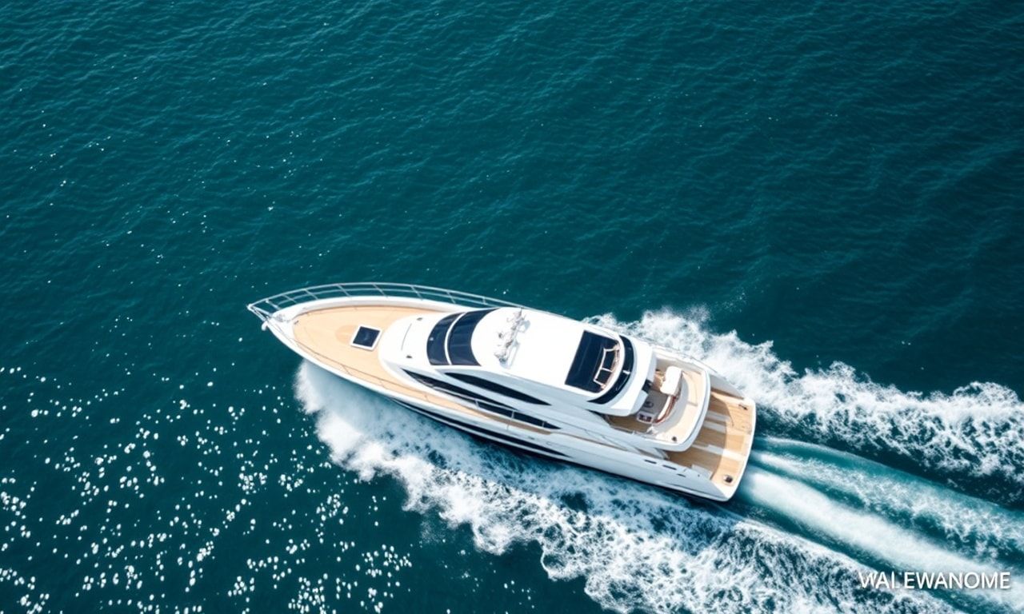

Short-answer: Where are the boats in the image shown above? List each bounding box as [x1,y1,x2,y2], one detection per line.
[248,283,755,503]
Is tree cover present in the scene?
No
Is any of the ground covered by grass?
No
